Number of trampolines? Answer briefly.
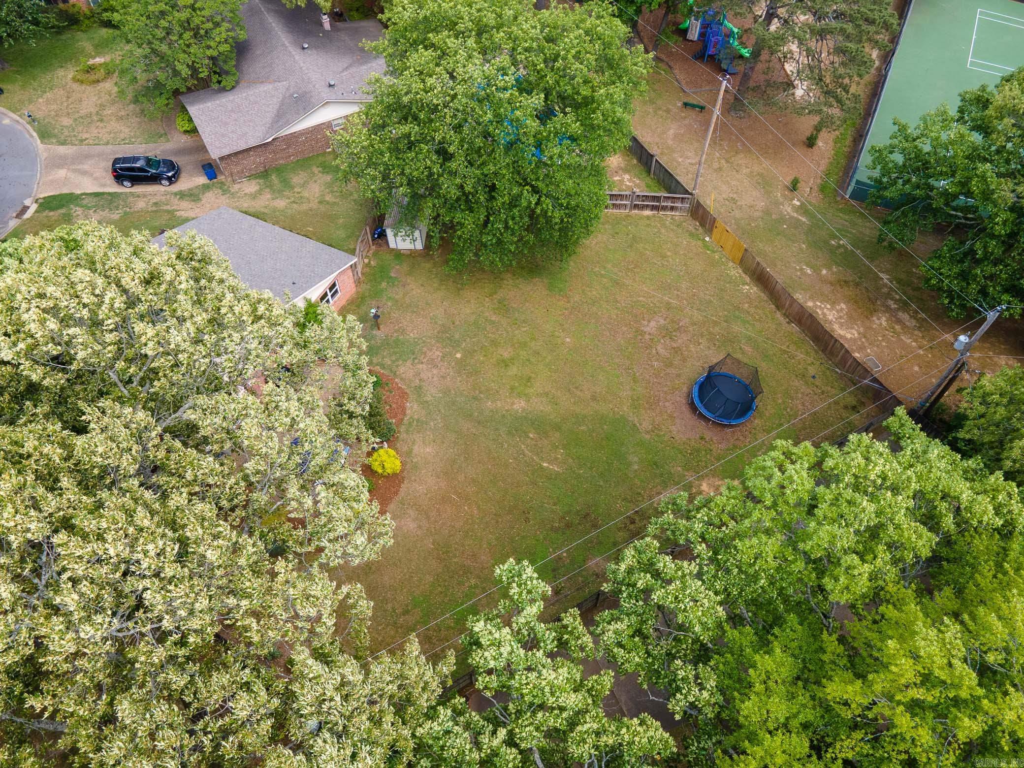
1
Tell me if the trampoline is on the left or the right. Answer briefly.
right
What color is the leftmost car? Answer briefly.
black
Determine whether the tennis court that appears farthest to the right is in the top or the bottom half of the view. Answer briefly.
top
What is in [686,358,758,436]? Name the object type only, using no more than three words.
trampoline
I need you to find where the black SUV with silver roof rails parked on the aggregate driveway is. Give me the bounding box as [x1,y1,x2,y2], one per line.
[110,155,183,189]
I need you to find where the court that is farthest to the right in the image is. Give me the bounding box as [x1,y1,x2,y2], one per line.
[849,0,1024,205]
